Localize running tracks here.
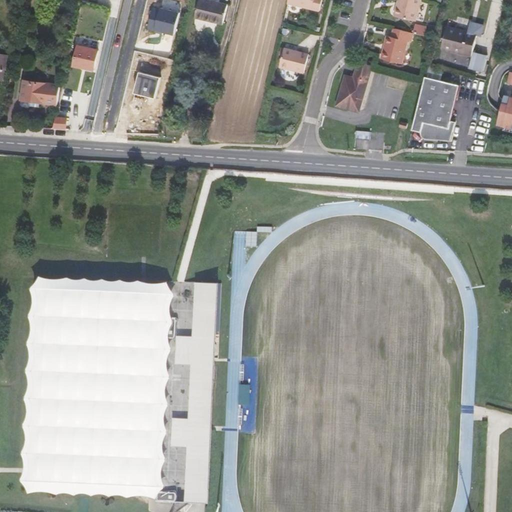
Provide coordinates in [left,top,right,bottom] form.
[222,202,476,512]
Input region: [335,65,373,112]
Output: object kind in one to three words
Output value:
building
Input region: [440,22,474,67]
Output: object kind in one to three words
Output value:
house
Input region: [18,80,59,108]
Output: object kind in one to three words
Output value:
house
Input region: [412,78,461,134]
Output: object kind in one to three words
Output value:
building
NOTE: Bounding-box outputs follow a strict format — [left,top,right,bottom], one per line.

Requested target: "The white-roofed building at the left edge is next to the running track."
[20,272,176,502]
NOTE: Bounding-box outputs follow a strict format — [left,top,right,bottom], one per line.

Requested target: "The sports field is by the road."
[240,216,463,512]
